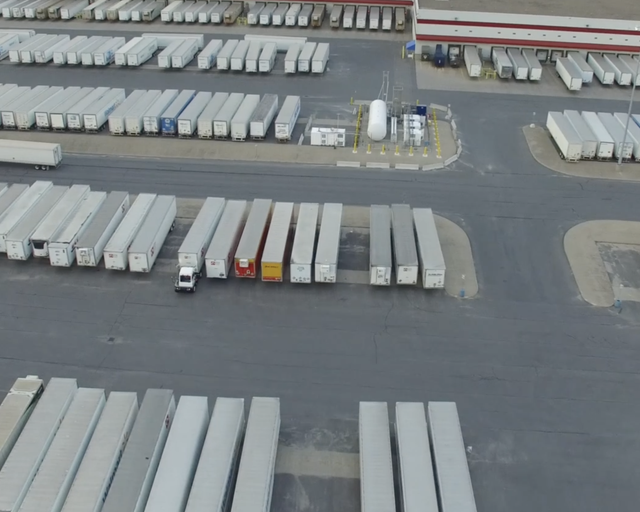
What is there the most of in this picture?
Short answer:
paved ground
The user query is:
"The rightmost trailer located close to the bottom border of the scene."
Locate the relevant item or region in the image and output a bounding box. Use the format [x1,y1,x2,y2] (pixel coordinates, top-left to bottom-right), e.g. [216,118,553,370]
[426,393,476,512]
